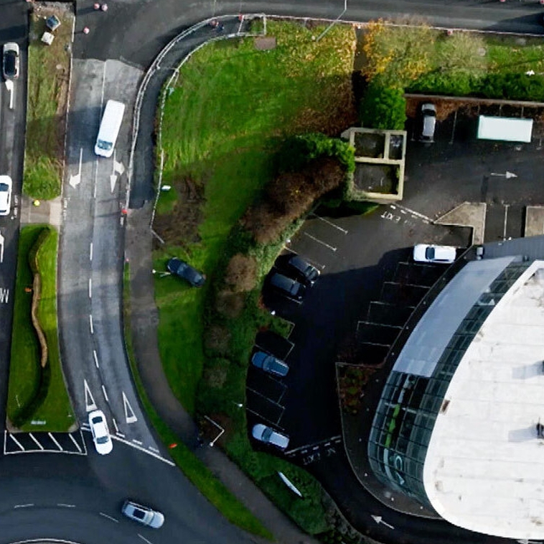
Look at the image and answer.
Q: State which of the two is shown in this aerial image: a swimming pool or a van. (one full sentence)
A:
This aerial view contains a van.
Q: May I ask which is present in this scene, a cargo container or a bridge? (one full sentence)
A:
It is a cargo container that can be seen here.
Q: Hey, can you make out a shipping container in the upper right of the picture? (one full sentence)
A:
Yes, a shipping container is visible in the upper right of the picture.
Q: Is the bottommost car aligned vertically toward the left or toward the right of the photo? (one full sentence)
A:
The bottommost car aligned vertically appears in the left half of the scene.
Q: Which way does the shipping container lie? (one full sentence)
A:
What the image shows is the shipping container lying horizontally.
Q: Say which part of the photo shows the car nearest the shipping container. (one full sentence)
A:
Look in the top right portion of the view to spot the car nearest the shipping container.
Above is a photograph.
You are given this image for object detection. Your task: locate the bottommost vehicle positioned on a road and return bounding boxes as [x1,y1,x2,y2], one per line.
[121,499,163,526]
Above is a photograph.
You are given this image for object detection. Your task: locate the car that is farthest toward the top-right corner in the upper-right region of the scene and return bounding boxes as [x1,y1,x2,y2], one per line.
[416,104,439,144]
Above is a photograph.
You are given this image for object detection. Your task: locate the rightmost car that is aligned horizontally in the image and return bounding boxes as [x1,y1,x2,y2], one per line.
[412,243,457,264]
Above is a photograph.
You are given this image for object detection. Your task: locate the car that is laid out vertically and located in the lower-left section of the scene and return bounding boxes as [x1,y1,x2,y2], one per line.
[89,408,111,453]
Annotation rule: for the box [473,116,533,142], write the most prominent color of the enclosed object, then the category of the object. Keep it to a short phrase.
white shipping container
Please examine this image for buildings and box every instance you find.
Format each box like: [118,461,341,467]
[369,233,544,540]
[347,126,407,205]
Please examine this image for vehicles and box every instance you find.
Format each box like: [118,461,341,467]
[416,104,439,144]
[93,96,123,158]
[0,42,20,83]
[249,350,291,376]
[121,499,163,526]
[89,408,111,453]
[284,252,322,285]
[412,243,457,264]
[249,424,291,451]
[266,271,305,298]
[0,176,12,215]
